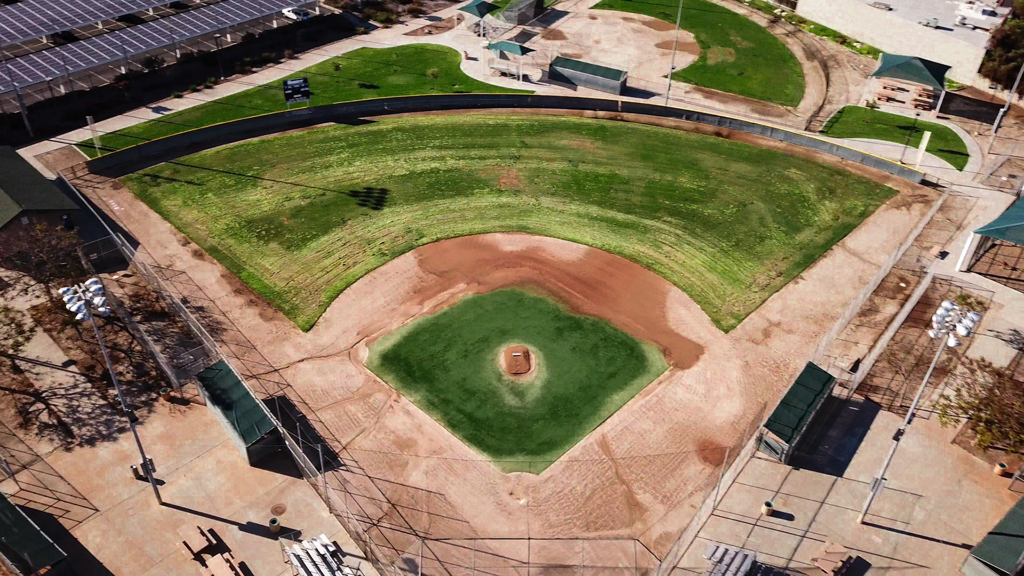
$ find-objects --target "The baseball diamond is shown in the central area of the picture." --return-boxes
[64,109,944,576]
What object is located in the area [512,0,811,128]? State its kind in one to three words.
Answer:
baseball field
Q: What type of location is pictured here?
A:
sports ground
